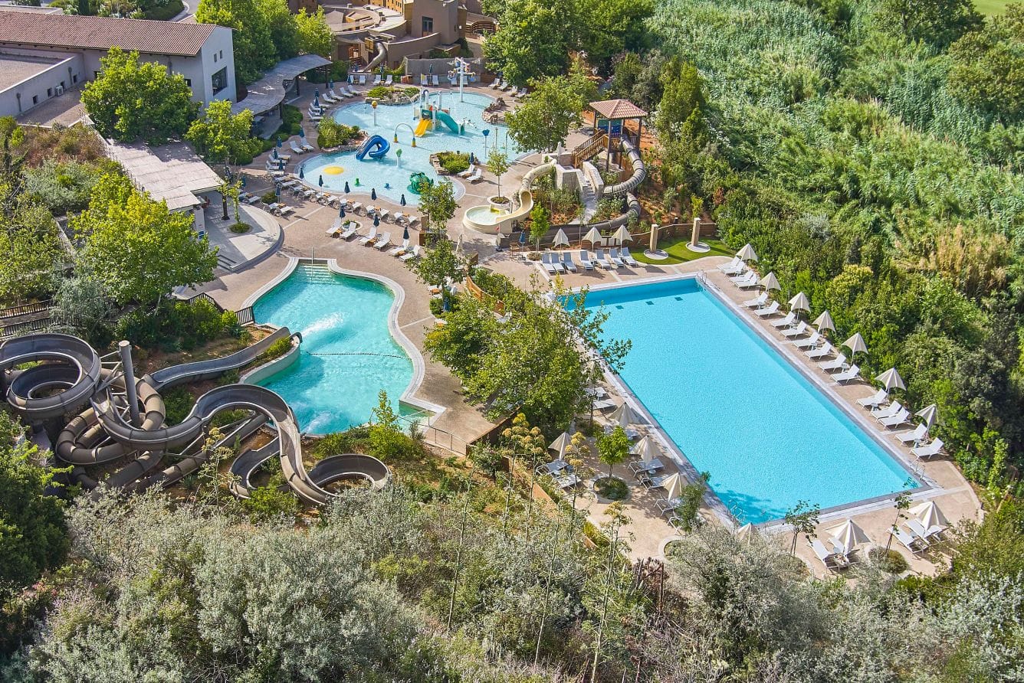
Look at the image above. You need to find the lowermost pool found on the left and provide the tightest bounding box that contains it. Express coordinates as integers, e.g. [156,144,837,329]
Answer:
[240,257,451,453]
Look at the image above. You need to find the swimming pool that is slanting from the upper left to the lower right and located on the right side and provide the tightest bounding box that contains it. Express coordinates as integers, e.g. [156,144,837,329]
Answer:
[550,270,959,552]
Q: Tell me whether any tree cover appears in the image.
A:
Yes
